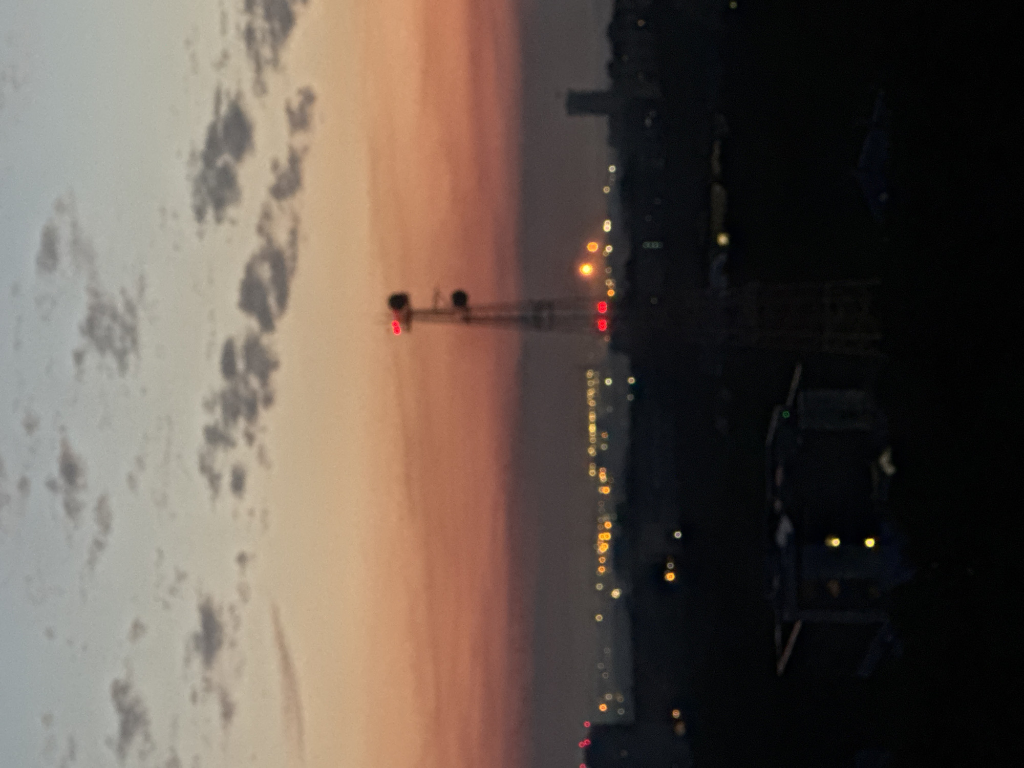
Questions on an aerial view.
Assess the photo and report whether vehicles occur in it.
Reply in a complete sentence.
No, the photo shows no vehicle.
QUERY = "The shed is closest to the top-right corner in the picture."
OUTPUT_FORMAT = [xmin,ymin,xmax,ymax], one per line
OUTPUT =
[854,92,905,229]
